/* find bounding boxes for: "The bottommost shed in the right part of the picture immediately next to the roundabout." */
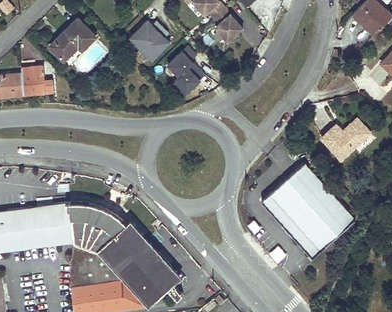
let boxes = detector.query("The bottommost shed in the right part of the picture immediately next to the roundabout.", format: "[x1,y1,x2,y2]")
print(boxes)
[264,166,354,256]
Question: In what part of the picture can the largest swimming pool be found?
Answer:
top left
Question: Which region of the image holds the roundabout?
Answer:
center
